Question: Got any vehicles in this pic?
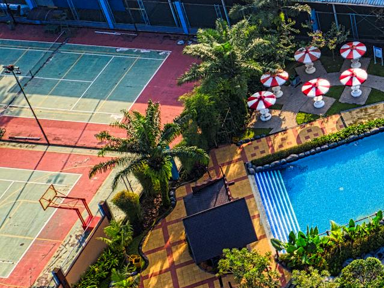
No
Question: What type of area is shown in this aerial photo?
sports ground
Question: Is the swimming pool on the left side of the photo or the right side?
right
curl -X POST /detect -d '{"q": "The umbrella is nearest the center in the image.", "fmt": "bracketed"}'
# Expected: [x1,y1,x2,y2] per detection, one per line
[243,93,274,124]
